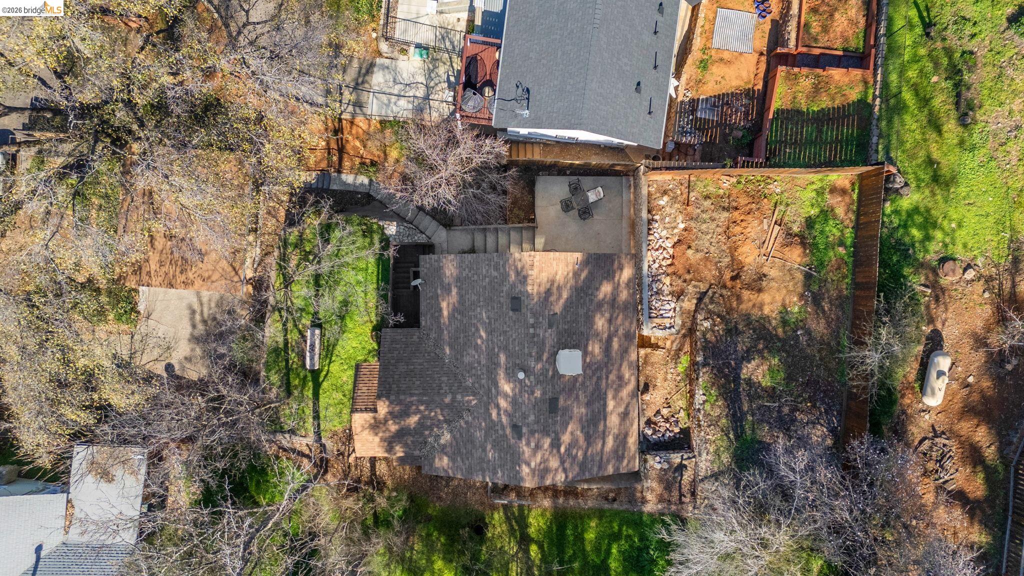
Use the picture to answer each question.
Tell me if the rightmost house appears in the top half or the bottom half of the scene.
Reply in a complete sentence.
The rightmost house sits in the top half of the picture.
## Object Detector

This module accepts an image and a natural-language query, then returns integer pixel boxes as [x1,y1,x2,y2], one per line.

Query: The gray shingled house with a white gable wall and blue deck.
[493,0,684,151]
